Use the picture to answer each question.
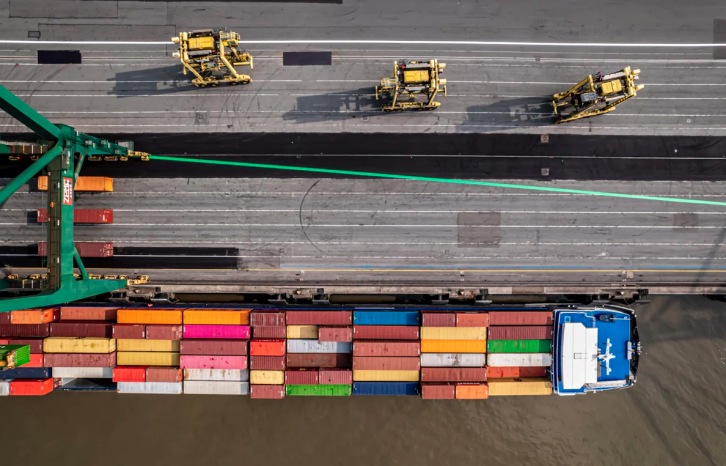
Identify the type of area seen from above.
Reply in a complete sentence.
This image shows a port.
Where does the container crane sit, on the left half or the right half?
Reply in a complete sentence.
The container crane appears in the left half of the scene.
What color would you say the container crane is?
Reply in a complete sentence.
From above, the container crane appears green.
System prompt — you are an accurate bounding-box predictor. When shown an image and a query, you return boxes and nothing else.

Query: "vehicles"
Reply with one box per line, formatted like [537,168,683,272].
[177,32,257,84]
[376,61,447,109]
[549,68,642,126]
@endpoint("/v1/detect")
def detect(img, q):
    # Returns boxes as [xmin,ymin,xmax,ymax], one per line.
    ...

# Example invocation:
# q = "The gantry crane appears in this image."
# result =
[0,84,149,313]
